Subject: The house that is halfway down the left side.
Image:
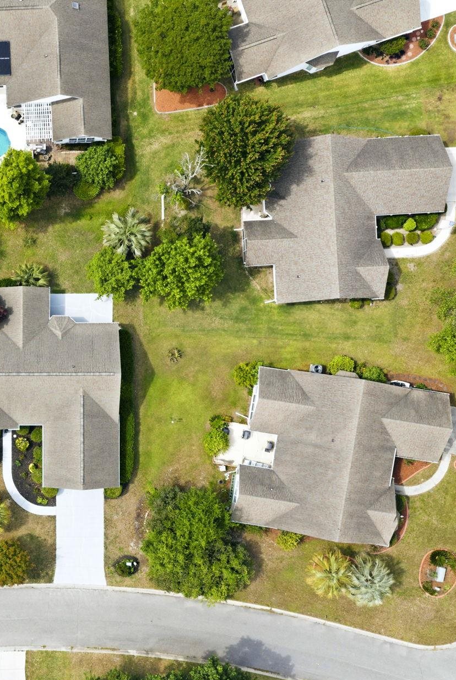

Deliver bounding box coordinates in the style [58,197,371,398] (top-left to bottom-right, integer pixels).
[0,286,121,490]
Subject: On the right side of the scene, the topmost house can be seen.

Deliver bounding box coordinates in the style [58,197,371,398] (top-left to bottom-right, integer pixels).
[229,0,426,86]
